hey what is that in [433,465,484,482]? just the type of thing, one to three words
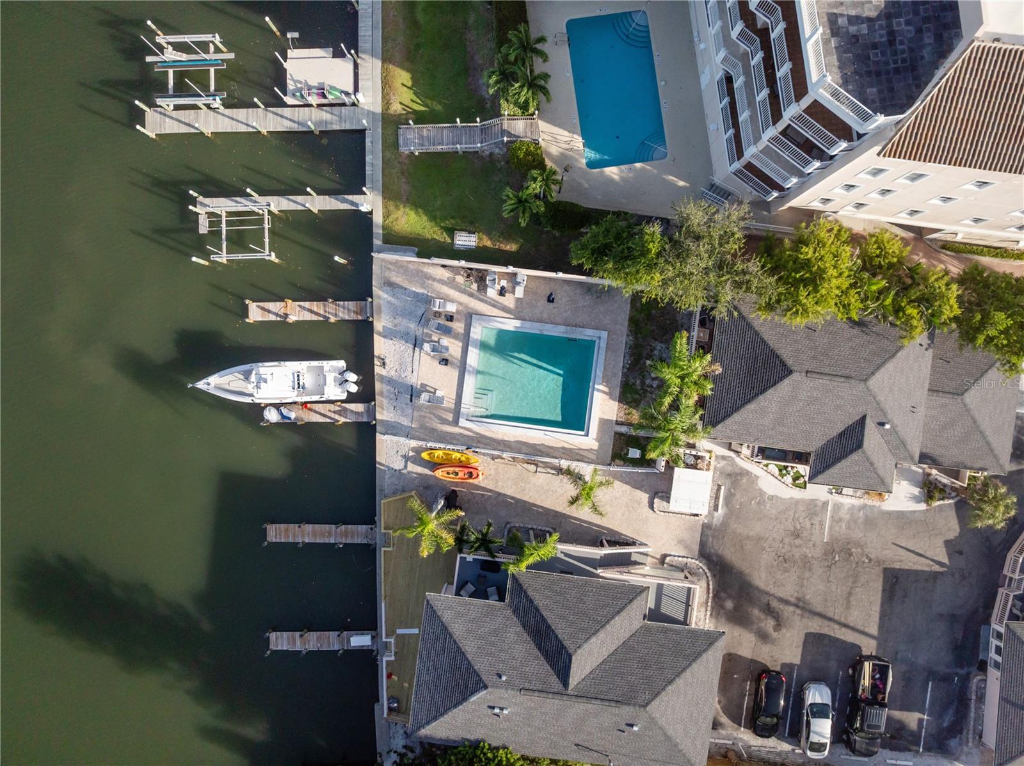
boat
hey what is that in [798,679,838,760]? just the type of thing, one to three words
car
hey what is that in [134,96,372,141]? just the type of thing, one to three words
pier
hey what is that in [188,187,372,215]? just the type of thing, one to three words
pier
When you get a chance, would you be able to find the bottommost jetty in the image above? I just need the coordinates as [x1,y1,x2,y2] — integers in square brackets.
[265,623,378,655]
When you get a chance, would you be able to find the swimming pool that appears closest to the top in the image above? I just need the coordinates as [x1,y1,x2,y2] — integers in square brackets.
[553,0,677,172]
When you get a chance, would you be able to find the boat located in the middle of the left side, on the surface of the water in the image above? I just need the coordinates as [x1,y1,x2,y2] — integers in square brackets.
[185,360,360,403]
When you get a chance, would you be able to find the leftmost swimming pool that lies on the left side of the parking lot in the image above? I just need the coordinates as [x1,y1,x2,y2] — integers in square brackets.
[459,315,607,440]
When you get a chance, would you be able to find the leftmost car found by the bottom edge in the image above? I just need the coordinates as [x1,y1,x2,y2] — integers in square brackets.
[750,669,788,738]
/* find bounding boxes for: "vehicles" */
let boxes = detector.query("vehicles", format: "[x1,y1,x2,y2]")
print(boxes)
[843,647,892,758]
[798,679,838,760]
[750,669,788,738]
